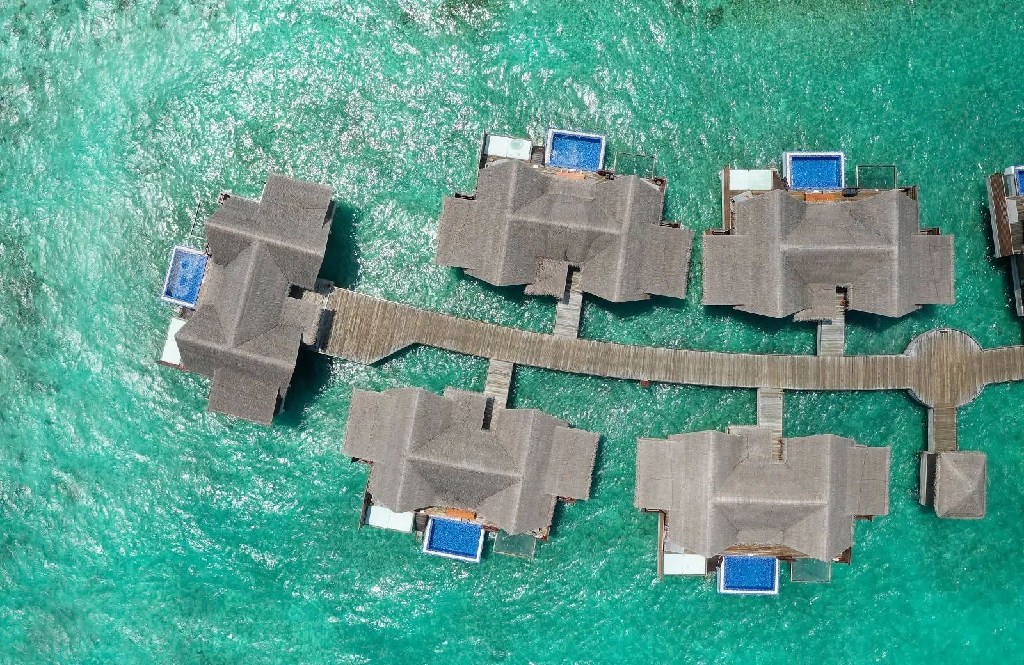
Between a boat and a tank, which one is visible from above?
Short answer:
tank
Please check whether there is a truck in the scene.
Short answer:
No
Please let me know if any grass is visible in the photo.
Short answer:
No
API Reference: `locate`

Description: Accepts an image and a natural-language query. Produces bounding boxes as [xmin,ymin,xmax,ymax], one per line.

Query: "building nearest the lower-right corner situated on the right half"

[908,451,987,519]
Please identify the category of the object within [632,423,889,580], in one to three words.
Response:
house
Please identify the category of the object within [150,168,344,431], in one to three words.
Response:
house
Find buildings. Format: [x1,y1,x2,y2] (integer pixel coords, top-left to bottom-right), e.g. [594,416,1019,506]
[986,172,1024,311]
[431,130,692,302]
[339,386,602,559]
[908,451,987,519]
[698,163,955,323]
[632,423,889,580]
[150,168,344,431]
